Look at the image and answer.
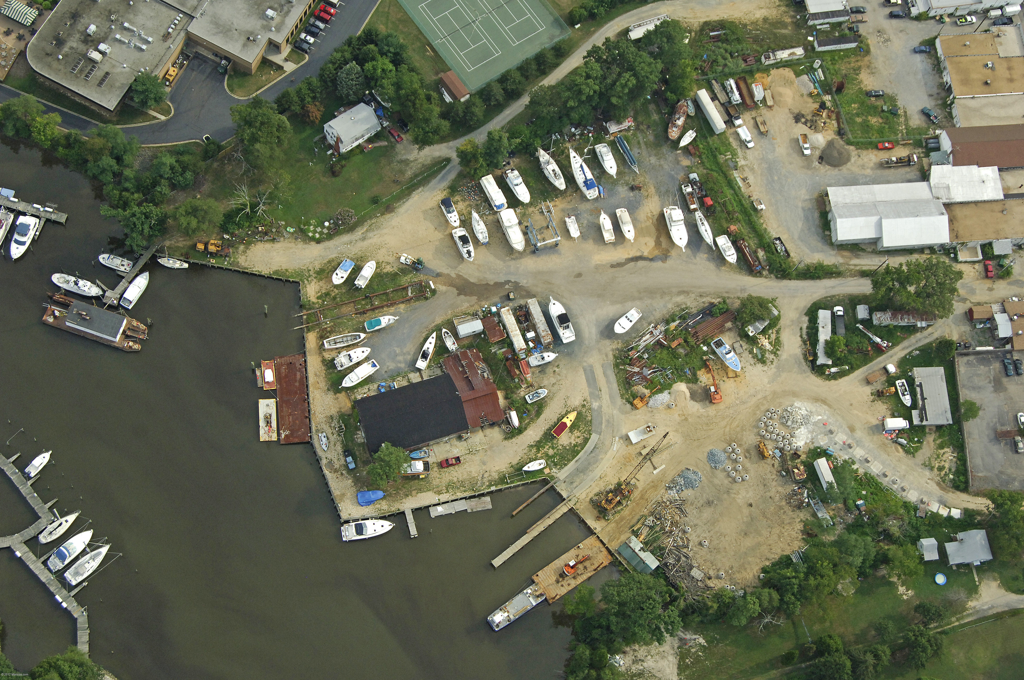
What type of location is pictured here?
port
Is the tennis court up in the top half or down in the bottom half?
top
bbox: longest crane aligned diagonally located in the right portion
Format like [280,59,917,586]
[596,431,669,515]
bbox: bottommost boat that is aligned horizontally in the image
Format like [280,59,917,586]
[338,519,396,542]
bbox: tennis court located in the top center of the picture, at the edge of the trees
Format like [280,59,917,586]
[406,0,574,90]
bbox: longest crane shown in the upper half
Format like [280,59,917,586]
[193,230,264,263]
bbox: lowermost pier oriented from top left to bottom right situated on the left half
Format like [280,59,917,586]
[11,537,92,652]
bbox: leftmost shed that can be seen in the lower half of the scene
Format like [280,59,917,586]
[354,373,469,456]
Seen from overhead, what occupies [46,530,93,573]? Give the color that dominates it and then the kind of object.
white boat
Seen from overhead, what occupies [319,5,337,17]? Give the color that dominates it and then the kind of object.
red vehicle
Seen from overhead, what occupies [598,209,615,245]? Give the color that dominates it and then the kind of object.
white boat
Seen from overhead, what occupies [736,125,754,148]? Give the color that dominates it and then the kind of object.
white vehicle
